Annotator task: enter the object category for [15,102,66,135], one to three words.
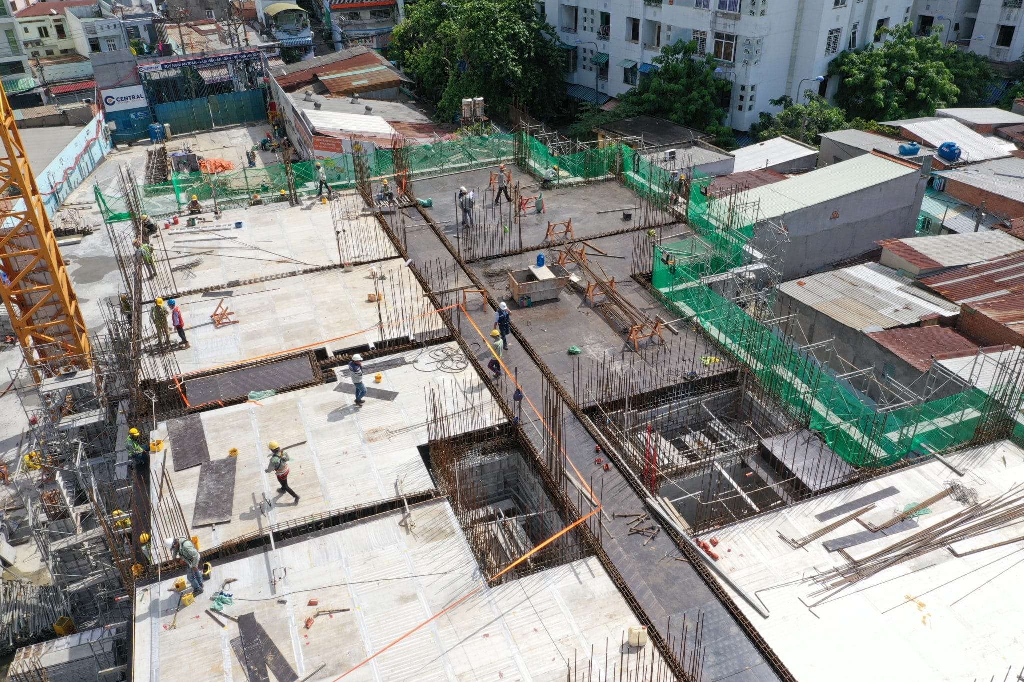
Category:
house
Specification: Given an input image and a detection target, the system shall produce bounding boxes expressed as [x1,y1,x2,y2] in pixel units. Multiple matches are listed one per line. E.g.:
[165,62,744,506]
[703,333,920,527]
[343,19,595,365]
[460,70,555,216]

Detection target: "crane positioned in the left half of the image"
[0,90,110,447]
